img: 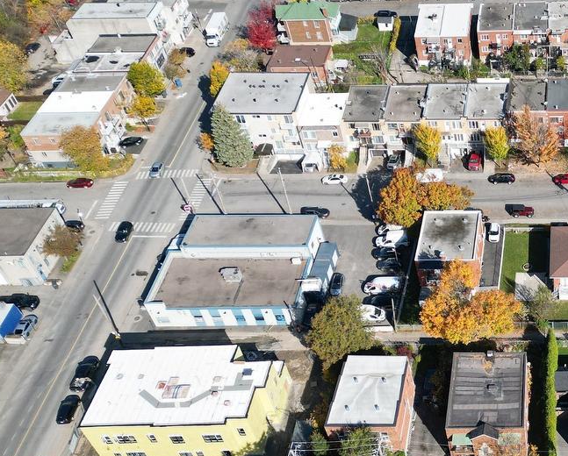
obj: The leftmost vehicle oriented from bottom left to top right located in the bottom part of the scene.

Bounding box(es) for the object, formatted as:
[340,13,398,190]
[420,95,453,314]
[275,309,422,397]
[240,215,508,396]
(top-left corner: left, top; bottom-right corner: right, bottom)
[6,310,48,342]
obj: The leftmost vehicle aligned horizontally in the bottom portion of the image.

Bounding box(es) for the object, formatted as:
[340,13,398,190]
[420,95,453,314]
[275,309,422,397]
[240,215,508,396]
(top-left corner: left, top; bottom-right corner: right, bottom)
[0,292,42,309]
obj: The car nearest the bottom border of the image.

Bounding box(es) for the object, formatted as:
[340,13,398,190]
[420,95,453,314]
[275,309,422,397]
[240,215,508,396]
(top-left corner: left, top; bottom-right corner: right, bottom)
[56,393,84,423]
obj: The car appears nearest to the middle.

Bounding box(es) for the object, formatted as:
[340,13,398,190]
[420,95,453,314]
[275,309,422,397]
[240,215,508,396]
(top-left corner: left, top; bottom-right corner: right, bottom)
[300,205,330,219]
